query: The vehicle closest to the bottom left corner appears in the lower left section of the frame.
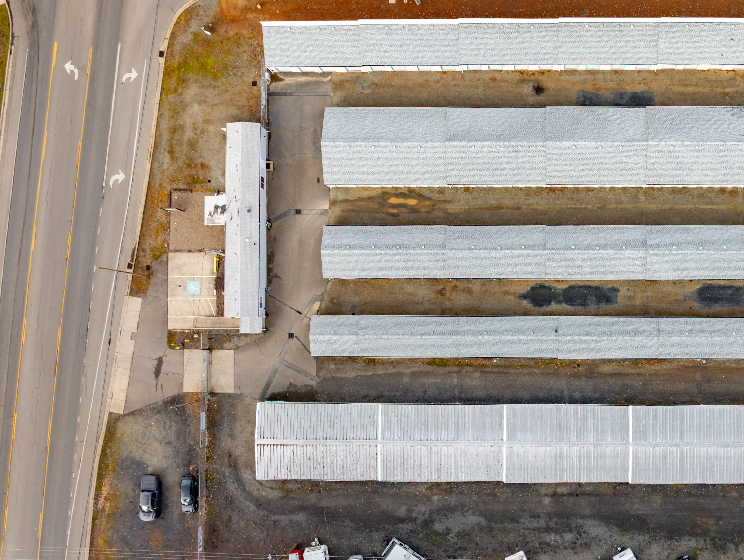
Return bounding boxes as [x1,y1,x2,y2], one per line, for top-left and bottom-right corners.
[136,473,162,523]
